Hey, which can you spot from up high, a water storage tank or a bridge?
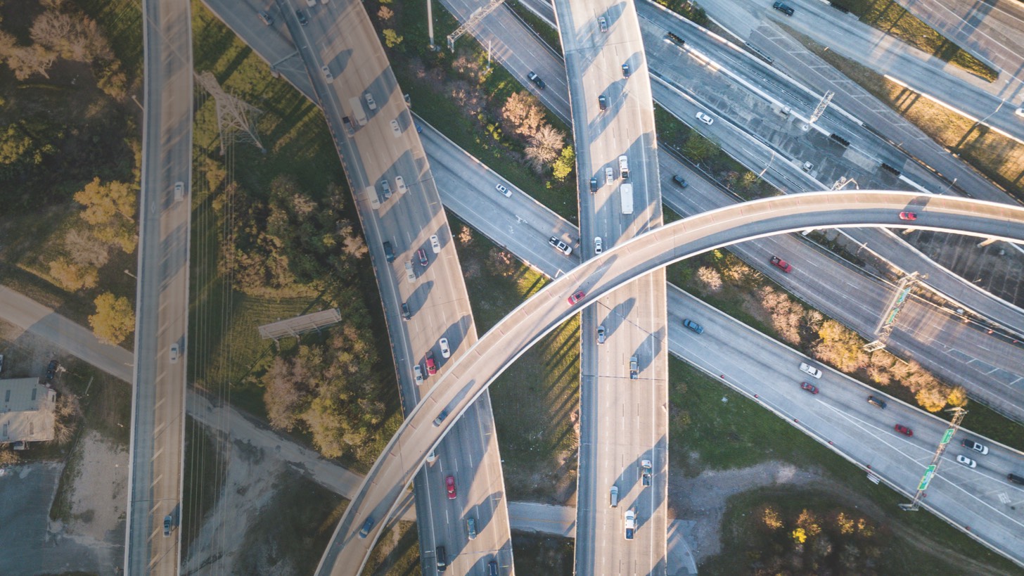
bridge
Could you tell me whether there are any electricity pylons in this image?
Yes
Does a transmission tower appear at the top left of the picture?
Yes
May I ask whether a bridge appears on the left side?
Yes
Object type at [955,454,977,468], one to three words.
car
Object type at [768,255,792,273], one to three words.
vehicle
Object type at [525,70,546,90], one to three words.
vehicle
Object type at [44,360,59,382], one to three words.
car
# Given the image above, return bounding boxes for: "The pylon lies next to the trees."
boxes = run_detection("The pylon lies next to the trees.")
[195,76,267,155]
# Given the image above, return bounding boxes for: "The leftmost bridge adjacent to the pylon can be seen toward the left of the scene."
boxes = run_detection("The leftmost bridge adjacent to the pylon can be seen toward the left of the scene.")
[123,0,195,576]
